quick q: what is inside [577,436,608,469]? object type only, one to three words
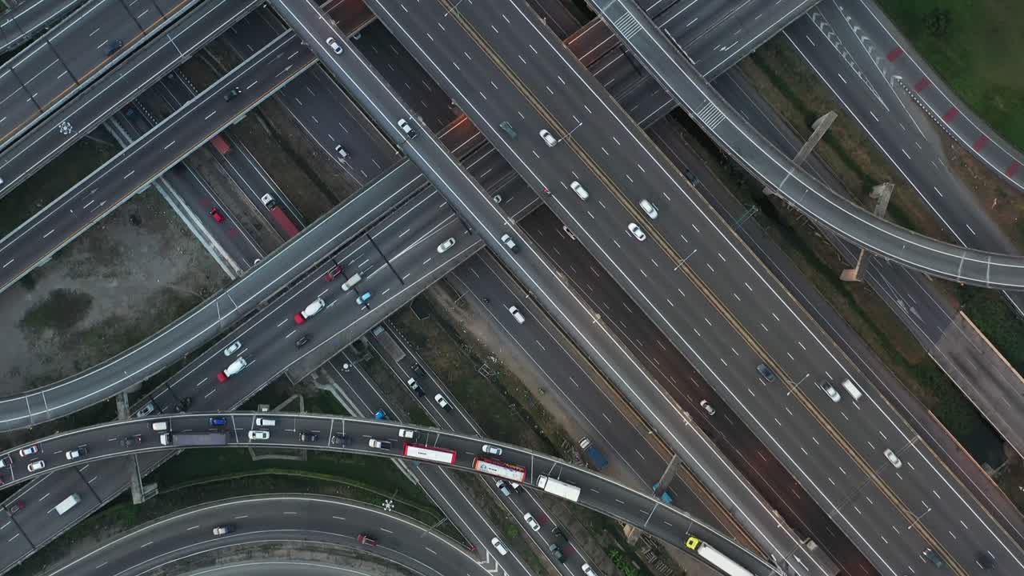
truck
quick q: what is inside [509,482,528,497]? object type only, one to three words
vehicle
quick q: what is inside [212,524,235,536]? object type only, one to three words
vehicle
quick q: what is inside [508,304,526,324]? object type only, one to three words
car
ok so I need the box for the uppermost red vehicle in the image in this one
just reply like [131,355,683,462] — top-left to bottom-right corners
[212,134,235,157]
